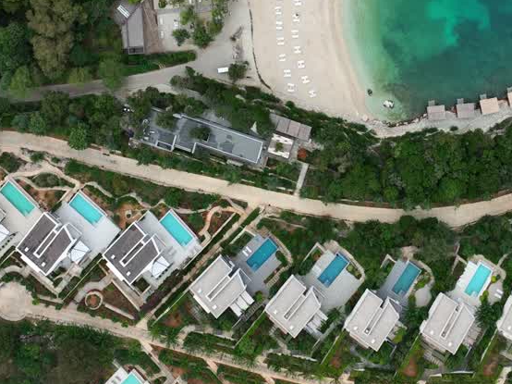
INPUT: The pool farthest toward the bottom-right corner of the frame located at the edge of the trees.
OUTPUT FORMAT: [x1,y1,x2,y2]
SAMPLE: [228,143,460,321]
[463,263,494,300]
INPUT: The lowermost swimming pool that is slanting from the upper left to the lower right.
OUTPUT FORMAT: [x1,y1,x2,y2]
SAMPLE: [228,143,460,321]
[158,212,193,248]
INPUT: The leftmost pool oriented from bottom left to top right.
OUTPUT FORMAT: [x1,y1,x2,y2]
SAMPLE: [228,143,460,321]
[245,237,279,274]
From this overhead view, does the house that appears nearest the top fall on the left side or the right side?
left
